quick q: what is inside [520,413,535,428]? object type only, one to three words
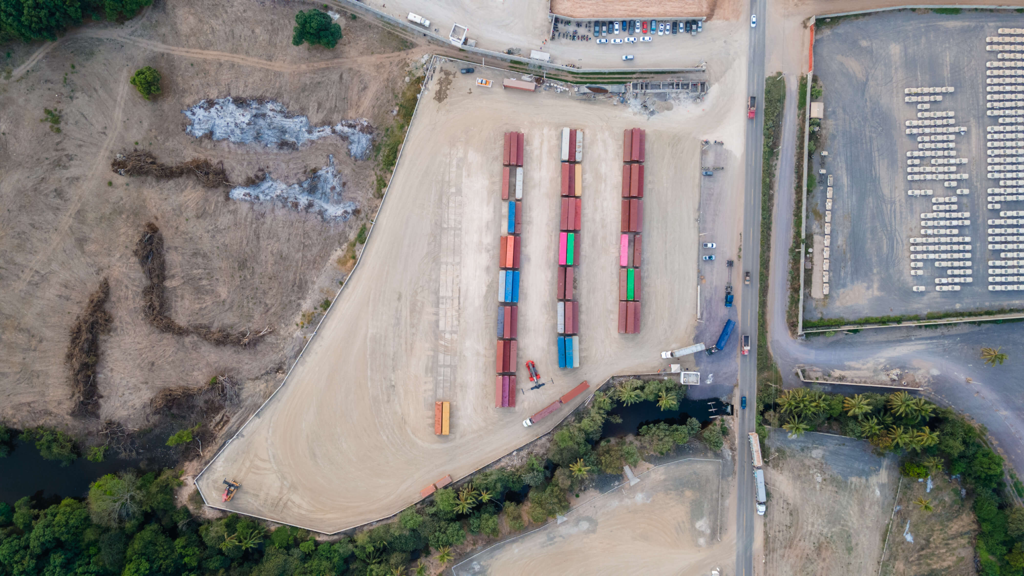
vehicle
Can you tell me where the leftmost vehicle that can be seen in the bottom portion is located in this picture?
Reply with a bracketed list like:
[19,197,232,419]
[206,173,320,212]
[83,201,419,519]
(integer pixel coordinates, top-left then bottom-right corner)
[224,477,242,499]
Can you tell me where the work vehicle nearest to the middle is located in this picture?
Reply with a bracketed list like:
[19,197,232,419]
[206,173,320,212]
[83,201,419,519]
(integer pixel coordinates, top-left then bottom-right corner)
[522,359,554,393]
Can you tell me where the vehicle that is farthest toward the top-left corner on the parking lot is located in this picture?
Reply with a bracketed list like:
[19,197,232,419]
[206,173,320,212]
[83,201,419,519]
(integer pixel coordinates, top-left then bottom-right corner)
[406,13,430,28]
